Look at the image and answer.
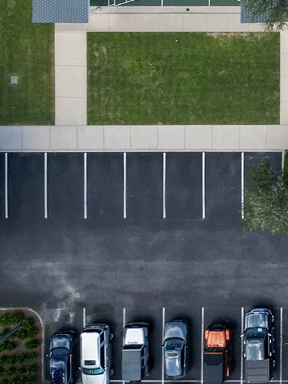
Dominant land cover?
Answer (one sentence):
What you mostly see from above here is paved ground.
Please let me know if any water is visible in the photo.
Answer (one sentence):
No, no water is visible.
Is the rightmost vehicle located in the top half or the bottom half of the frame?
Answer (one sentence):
The rightmost vehicle sits in the bottom half of the picture.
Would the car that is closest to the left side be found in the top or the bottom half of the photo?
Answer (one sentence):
You can find the car that is closest to the left side in the bottom half.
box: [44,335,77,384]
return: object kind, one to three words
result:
car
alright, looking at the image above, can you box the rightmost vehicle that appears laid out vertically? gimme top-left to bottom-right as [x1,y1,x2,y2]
[239,314,273,384]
